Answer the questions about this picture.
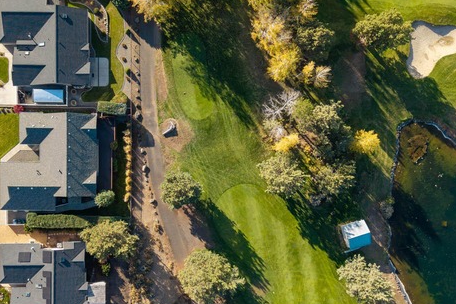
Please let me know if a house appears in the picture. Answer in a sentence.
Yes, a house can be made out from above.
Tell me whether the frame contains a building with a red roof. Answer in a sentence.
No, I find no building with a red roof anywhere in the image.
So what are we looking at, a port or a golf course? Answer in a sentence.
What you see here is a golf course.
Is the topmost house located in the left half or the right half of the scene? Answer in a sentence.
It is on the left.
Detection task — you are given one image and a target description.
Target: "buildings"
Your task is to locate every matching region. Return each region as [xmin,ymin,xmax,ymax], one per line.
[0,111,98,210]
[0,243,106,304]
[336,220,371,250]
[0,0,91,85]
